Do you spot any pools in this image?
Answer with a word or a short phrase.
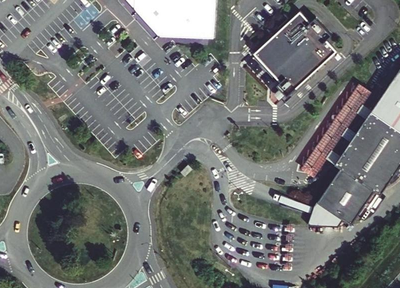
No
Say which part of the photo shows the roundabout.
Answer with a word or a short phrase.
bottom left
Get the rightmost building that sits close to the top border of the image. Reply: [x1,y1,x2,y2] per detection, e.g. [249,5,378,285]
[242,12,336,100]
